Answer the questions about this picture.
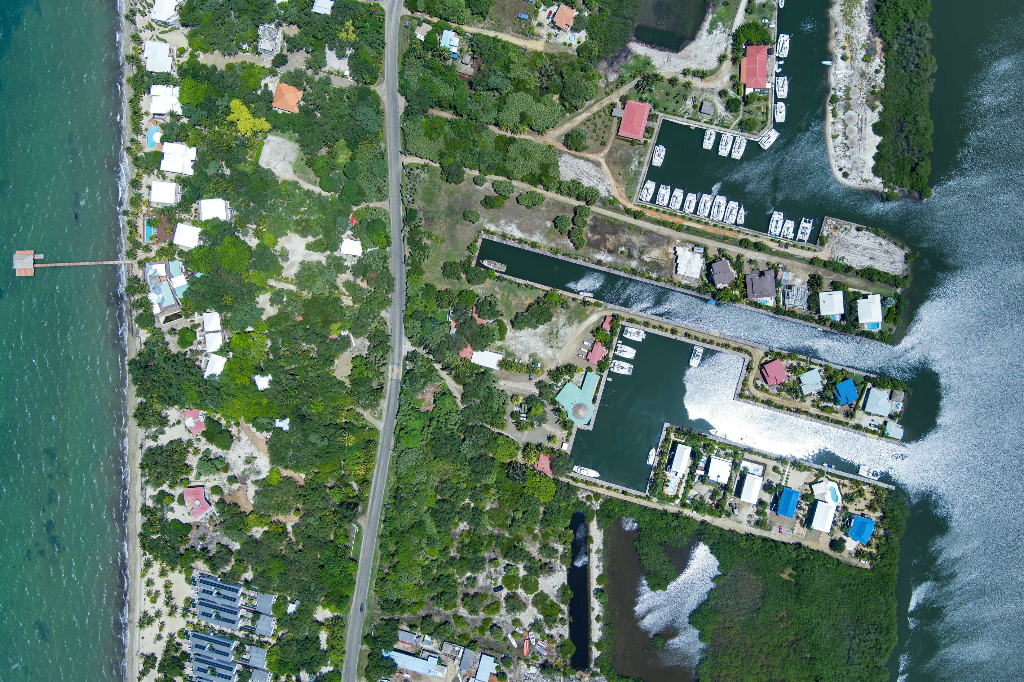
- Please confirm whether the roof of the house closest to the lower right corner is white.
No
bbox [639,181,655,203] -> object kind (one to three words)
boat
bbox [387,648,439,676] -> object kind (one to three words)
building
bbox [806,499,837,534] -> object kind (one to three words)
house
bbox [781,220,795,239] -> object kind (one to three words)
boat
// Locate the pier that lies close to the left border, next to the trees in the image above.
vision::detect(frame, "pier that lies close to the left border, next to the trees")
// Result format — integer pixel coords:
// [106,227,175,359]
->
[16,250,136,276]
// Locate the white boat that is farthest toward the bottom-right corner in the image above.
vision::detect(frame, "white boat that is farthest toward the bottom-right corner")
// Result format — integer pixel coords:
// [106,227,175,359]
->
[857,467,881,481]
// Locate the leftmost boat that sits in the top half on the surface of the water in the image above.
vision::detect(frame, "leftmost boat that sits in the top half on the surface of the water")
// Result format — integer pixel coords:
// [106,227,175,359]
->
[479,260,508,273]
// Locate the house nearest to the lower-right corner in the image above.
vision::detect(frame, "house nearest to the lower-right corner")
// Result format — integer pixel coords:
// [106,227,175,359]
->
[844,514,875,545]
